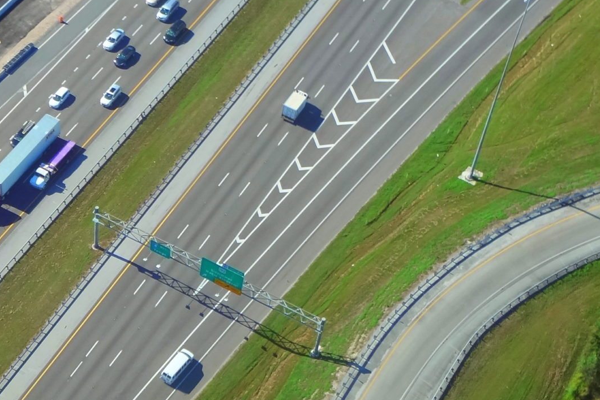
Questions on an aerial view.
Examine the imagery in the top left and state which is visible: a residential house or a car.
car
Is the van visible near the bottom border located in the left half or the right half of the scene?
left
